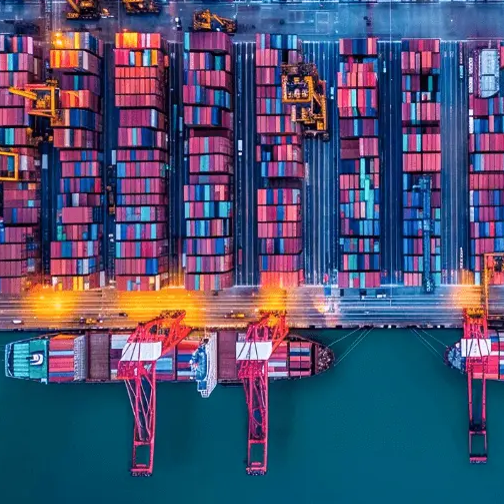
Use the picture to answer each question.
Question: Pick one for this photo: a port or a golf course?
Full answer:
The area seen from above is a port.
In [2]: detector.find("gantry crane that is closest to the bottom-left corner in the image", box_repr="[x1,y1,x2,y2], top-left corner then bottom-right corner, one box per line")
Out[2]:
[110,305,195,481]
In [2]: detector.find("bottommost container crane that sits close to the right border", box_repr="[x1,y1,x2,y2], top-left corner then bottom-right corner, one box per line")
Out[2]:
[454,305,497,467]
